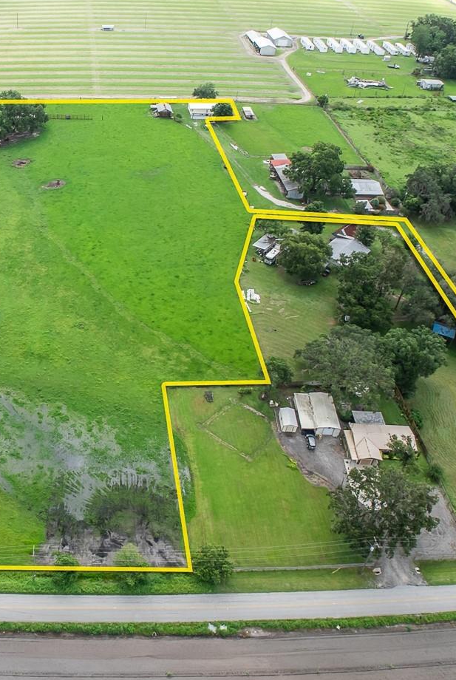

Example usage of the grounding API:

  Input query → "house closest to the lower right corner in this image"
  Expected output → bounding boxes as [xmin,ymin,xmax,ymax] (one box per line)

[336,424,419,466]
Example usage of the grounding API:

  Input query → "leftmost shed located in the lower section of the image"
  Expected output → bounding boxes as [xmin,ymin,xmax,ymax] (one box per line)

[274,406,298,433]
